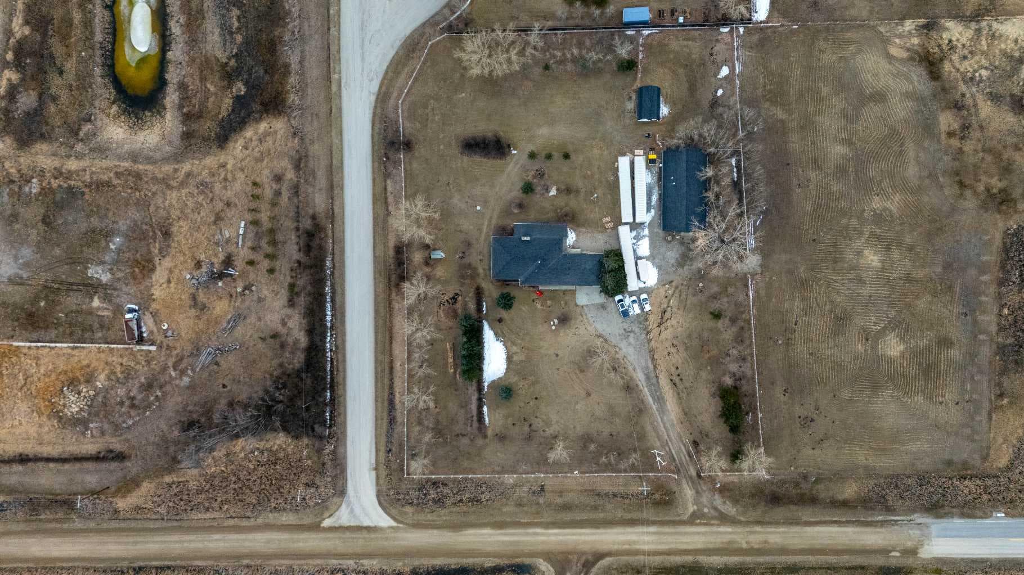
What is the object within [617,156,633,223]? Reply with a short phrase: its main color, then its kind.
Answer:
white trailer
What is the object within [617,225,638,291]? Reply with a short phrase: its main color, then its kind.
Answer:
white trailer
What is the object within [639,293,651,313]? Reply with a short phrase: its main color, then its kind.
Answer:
white vehicle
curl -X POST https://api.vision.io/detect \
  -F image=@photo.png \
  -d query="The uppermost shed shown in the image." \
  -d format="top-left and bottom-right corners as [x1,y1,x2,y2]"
[622,5,651,28]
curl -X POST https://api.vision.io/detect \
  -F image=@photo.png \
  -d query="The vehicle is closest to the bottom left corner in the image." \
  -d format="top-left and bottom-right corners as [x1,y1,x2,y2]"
[125,305,142,343]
